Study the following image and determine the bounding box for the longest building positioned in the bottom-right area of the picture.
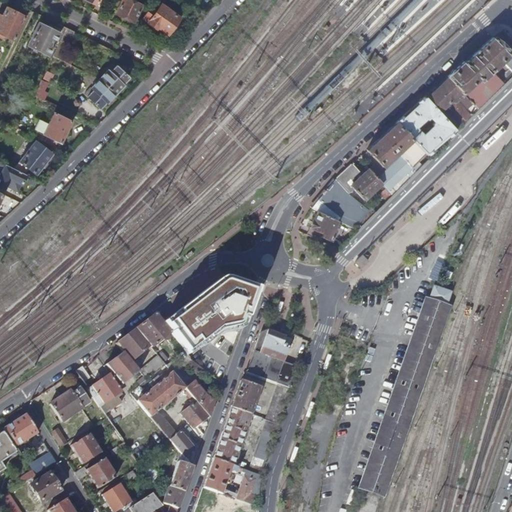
[359,297,452,497]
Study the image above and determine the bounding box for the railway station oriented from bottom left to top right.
[302,0,485,120]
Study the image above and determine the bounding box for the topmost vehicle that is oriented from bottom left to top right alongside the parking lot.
[483,126,510,152]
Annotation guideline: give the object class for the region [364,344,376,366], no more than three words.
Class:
vehicle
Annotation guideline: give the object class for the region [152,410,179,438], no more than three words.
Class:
house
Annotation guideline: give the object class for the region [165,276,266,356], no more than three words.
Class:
building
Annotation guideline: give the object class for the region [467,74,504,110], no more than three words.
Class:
building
